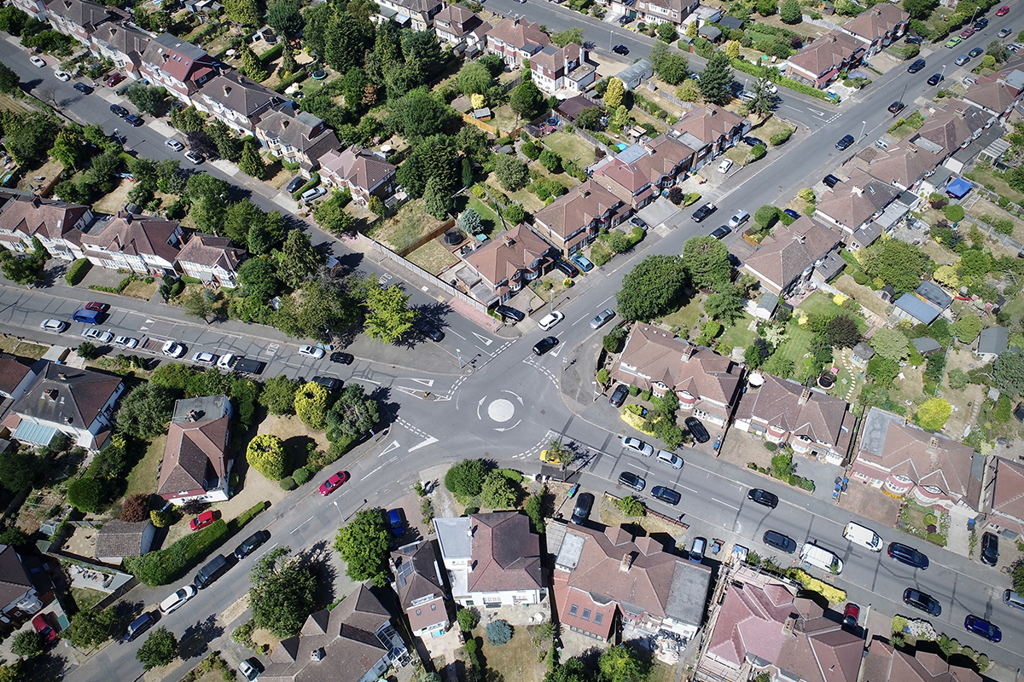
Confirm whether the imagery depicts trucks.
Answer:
Yes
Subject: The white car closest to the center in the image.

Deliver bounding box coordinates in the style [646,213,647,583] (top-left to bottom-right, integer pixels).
[537,310,565,331]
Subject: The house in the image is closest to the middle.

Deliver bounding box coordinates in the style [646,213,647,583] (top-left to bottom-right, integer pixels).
[455,222,554,313]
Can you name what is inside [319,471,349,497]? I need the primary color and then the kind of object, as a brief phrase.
red car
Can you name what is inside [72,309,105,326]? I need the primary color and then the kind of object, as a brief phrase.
blue vehicle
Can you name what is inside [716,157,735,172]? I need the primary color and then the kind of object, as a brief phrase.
white car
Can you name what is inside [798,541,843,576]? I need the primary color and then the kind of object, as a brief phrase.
white van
